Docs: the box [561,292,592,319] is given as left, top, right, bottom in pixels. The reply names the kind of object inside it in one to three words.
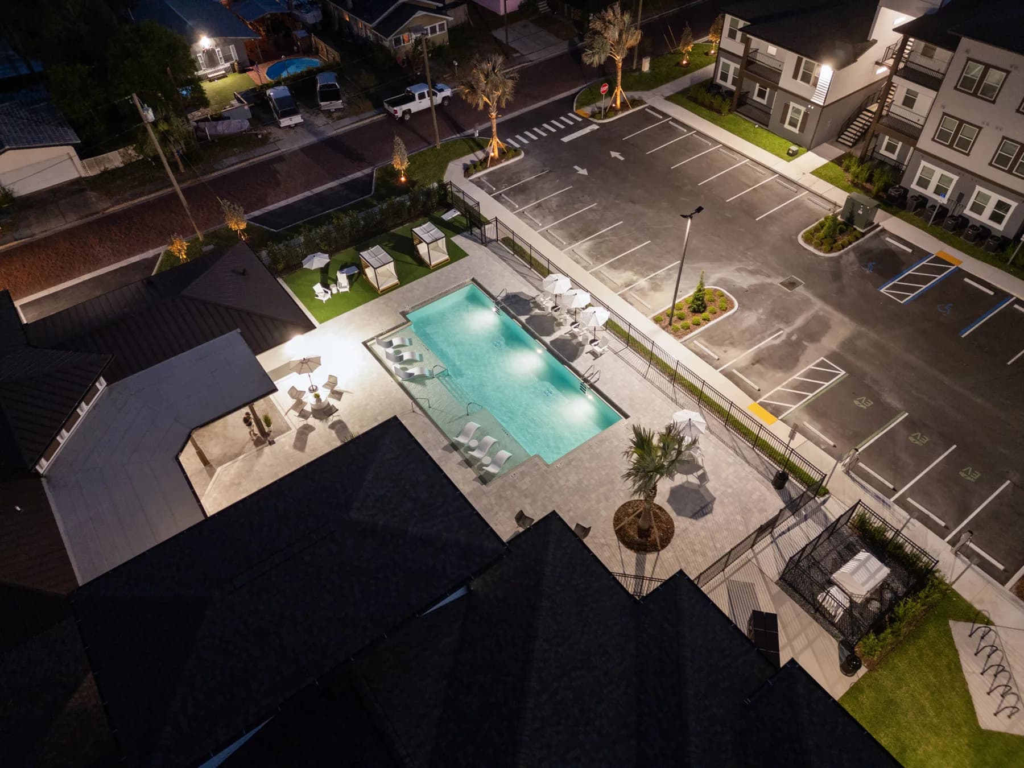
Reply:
umbrella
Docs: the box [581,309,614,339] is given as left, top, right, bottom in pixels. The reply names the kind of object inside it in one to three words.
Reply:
umbrella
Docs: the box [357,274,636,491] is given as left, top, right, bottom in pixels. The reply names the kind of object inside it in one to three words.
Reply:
swimming pool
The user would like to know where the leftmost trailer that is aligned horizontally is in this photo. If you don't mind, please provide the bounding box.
[209,91,251,114]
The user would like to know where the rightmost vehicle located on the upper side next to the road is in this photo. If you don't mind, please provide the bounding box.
[383,86,456,125]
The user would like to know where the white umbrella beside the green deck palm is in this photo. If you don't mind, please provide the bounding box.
[674,412,712,449]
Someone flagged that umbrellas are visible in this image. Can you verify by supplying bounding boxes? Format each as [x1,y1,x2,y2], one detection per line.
[287,352,325,387]
[581,309,614,339]
[674,412,712,449]
[561,292,592,319]
[541,274,572,302]
[299,258,329,296]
